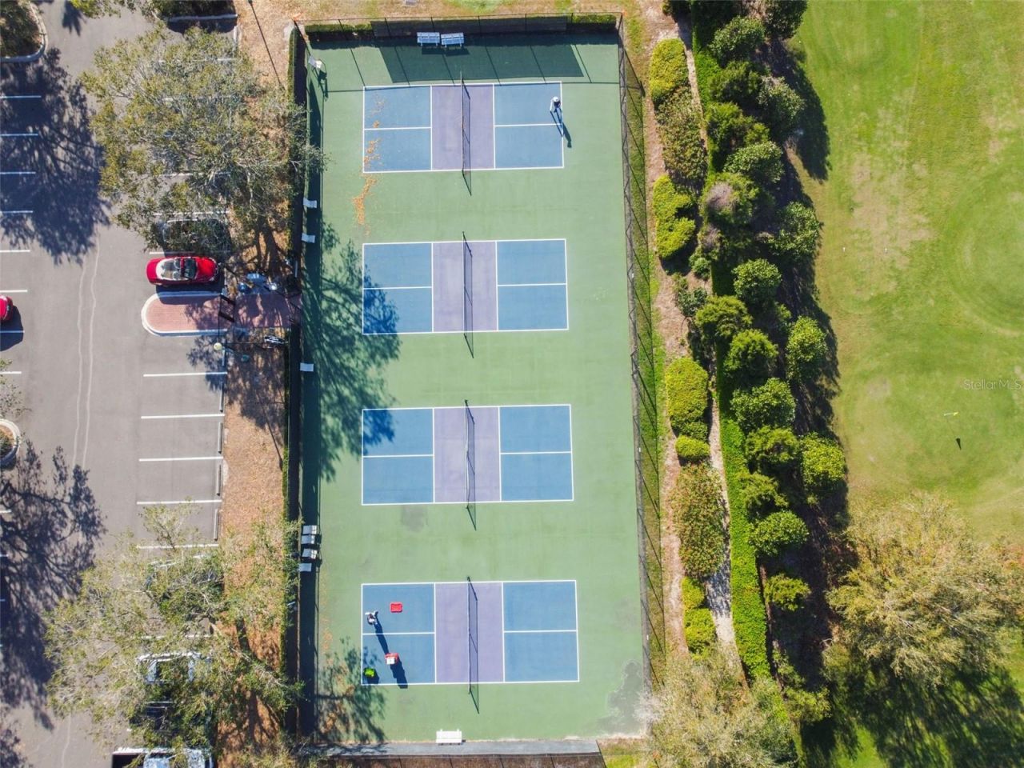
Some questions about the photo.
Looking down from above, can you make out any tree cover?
Yes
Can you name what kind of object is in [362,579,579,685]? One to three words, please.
sports court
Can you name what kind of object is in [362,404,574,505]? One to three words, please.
sports court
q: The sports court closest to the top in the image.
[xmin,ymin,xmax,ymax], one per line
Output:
[363,81,564,173]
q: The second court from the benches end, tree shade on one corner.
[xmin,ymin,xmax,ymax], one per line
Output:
[363,238,568,335]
